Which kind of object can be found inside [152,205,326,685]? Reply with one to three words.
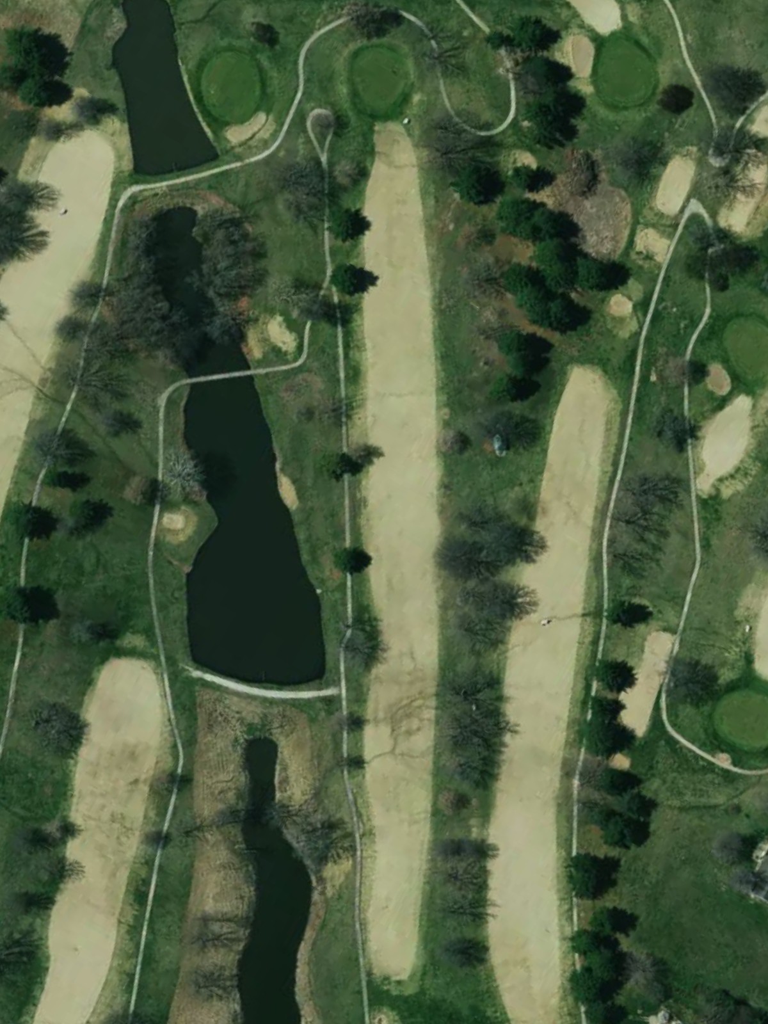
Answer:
pond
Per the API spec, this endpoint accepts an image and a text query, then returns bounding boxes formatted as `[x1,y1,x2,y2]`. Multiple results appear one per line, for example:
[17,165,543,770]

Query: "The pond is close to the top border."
[111,0,219,177]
